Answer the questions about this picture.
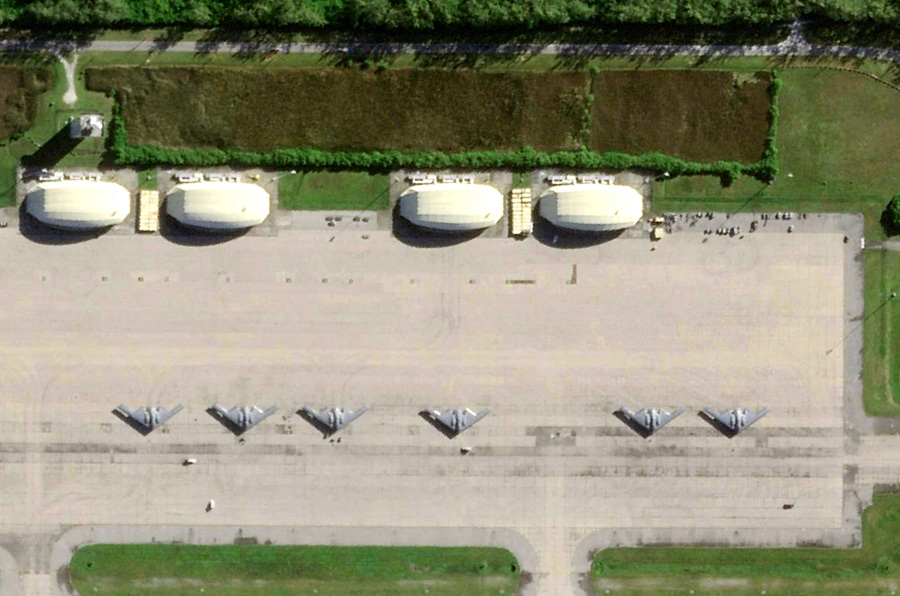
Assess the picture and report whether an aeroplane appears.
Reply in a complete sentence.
Yes, there's an aeroplane here.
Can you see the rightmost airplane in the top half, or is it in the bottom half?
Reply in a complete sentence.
The rightmost airplane sits in the bottom half of the picture.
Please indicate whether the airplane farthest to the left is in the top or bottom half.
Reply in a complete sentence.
The bottom half of the photo is where the airplane farthest to the left is.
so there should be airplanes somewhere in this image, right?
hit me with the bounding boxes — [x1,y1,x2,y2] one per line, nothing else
[705,403,773,430]
[620,404,687,431]
[301,403,370,431]
[425,403,493,431]
[210,403,278,430]
[118,403,185,430]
